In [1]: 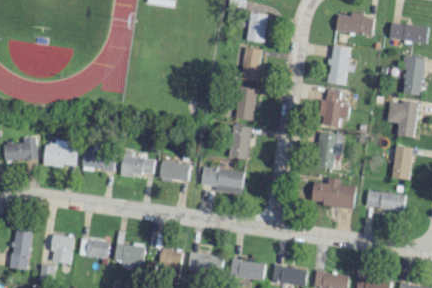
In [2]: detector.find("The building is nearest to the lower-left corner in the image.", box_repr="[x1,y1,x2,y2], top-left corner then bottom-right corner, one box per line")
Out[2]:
[9,232,32,270]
